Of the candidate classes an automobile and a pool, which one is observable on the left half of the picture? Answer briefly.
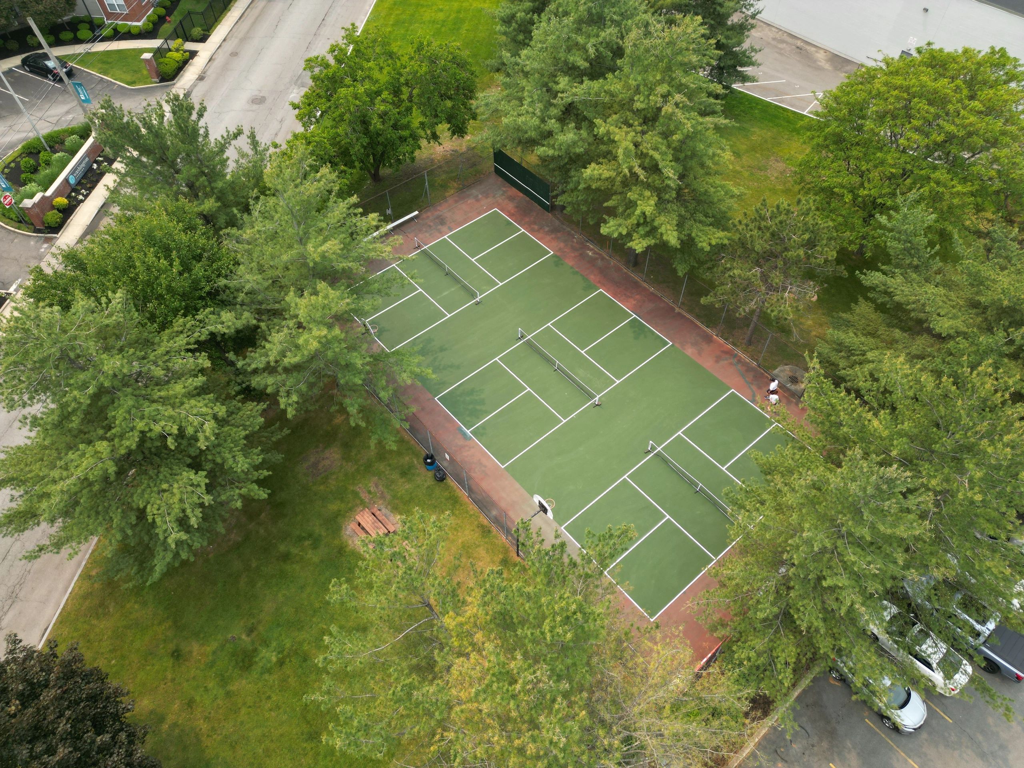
automobile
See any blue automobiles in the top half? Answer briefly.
No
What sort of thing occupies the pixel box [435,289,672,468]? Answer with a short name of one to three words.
sports court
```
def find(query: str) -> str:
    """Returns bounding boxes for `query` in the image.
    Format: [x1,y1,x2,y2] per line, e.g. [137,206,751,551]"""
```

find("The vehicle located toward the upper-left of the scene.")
[22,50,69,79]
